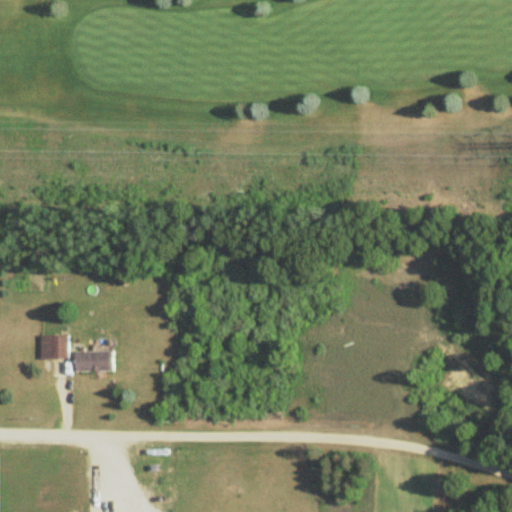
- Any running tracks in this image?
No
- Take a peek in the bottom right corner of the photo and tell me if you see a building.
No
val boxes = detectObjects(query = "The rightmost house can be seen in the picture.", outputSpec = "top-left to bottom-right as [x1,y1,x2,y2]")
[73,352,114,378]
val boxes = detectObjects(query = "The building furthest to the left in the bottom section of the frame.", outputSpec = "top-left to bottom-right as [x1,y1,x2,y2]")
[41,335,70,360]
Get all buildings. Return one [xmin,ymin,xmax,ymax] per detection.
[41,335,70,360]
[73,352,114,378]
